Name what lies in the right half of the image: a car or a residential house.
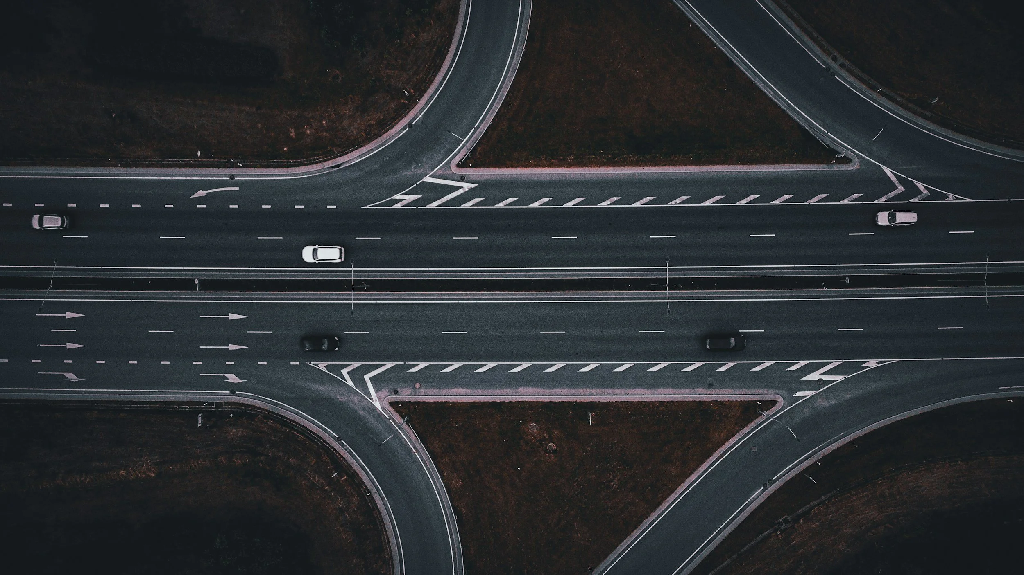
car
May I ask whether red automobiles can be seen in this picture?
No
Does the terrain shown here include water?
No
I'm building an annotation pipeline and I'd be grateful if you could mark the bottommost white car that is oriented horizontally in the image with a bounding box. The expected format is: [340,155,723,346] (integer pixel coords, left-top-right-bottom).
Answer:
[302,244,345,264]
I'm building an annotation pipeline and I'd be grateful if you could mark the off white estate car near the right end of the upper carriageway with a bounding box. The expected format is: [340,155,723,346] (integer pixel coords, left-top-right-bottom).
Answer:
[874,208,918,227]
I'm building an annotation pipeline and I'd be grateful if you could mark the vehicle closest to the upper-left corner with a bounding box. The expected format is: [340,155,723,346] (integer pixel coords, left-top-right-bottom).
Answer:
[32,212,72,231]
